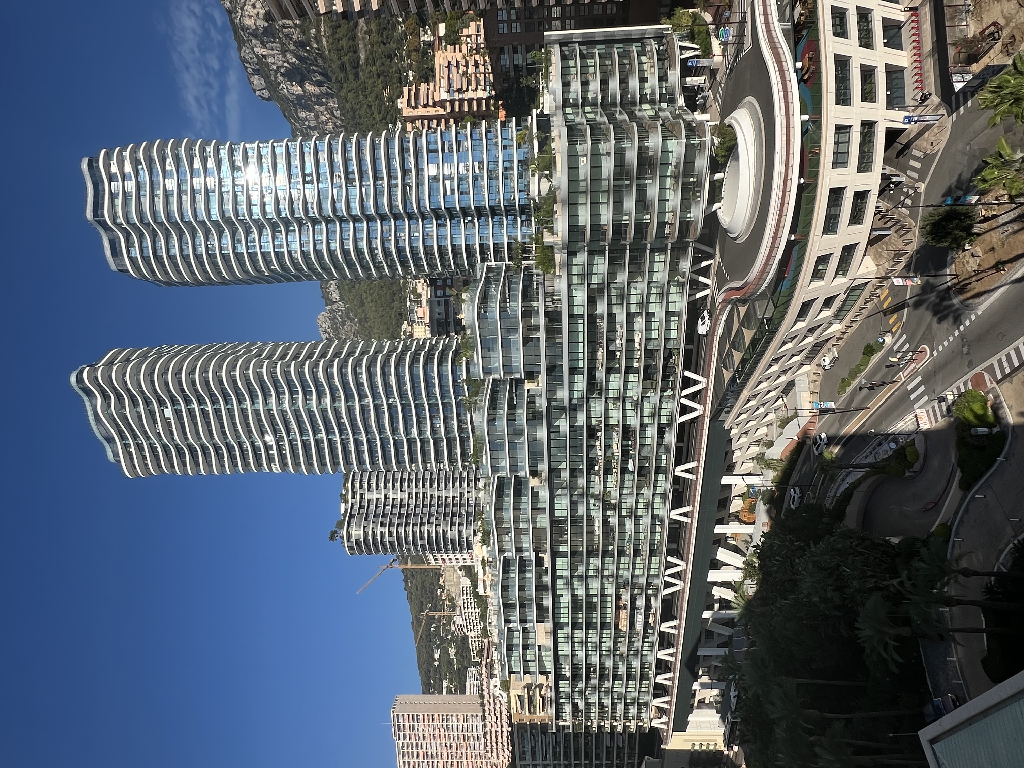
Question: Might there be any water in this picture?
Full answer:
No, water can't be seen anywhere here.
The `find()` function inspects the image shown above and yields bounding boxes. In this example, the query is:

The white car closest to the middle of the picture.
[697,309,709,336]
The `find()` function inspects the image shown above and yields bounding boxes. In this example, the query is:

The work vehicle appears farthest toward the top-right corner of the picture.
[976,2,1007,53]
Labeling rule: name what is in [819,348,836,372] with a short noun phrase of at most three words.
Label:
car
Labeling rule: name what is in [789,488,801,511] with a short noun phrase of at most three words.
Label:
vehicle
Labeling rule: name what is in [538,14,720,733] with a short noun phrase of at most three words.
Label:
building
